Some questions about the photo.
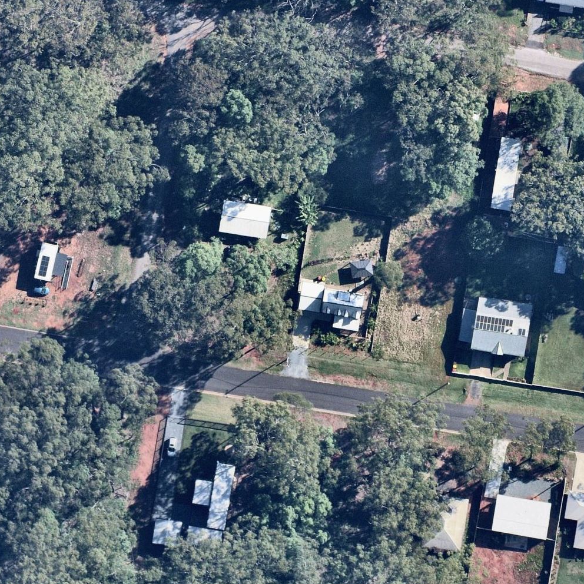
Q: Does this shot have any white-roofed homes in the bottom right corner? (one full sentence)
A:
Yes, a white-roofed home is visible in the bottom right corner.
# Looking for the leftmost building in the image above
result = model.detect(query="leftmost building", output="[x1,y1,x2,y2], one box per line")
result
[34,242,59,283]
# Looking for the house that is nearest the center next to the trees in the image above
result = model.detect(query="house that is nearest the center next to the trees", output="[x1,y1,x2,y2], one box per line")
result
[298,282,364,331]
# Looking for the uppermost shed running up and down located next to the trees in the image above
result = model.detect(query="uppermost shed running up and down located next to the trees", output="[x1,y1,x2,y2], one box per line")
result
[491,137,521,211]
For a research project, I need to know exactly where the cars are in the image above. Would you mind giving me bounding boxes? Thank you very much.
[33,287,51,296]
[168,437,178,457]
